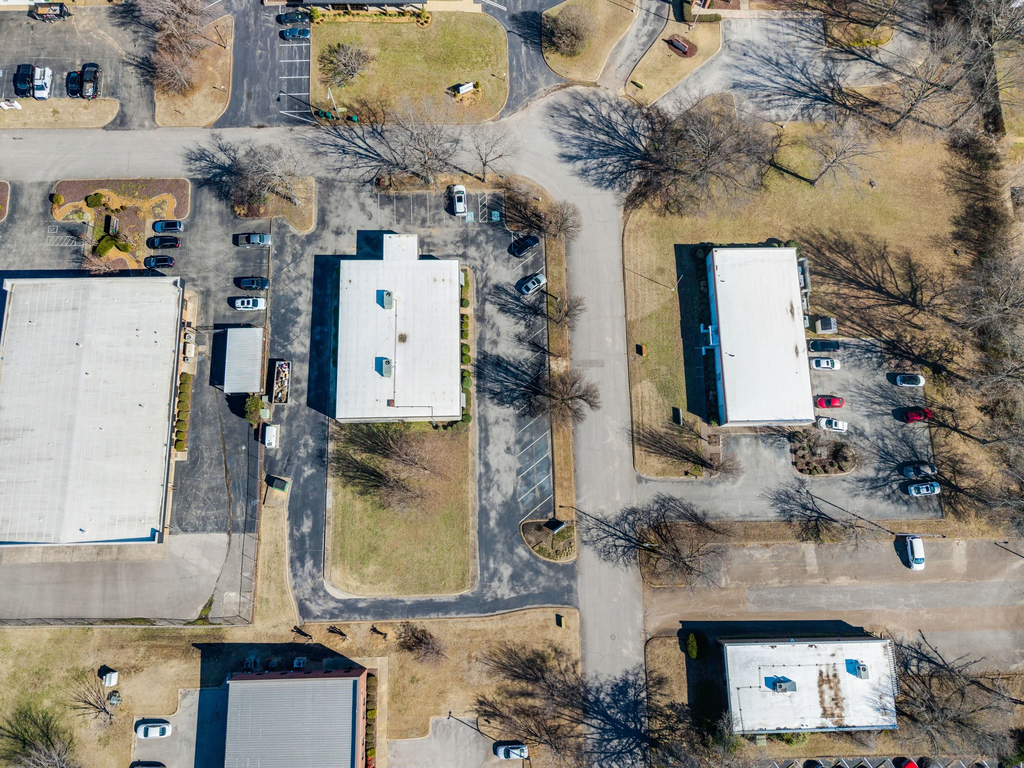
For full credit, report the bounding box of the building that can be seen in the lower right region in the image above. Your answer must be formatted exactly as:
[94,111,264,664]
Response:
[718,634,902,733]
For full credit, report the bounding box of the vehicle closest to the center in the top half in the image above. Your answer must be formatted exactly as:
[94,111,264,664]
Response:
[520,274,547,296]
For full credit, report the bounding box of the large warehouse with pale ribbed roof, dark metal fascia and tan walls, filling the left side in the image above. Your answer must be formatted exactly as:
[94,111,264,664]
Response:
[0,277,188,545]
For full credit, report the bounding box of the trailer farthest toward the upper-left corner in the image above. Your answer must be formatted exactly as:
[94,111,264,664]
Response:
[28,2,72,22]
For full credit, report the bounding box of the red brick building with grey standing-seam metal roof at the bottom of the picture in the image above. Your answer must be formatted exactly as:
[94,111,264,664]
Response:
[224,670,367,768]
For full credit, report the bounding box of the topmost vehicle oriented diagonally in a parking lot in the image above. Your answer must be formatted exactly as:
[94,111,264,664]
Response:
[513,236,540,259]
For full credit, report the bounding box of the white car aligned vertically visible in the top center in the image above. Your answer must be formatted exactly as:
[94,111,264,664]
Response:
[453,187,467,216]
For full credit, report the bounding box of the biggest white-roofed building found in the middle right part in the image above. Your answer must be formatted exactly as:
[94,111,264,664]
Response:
[691,248,815,423]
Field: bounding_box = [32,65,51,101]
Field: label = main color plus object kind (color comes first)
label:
white vehicle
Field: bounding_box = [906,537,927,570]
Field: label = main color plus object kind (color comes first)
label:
white vehicle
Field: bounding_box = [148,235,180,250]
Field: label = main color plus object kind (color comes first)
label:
black car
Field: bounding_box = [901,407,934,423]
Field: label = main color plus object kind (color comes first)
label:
red car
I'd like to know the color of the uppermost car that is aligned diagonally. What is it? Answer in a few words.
black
